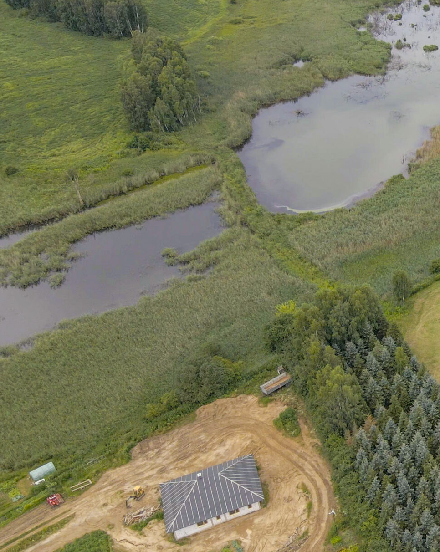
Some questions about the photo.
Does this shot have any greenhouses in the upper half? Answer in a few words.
No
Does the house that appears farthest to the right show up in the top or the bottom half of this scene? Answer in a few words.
bottom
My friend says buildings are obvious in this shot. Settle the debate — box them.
[25,462,58,488]
[160,453,263,539]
